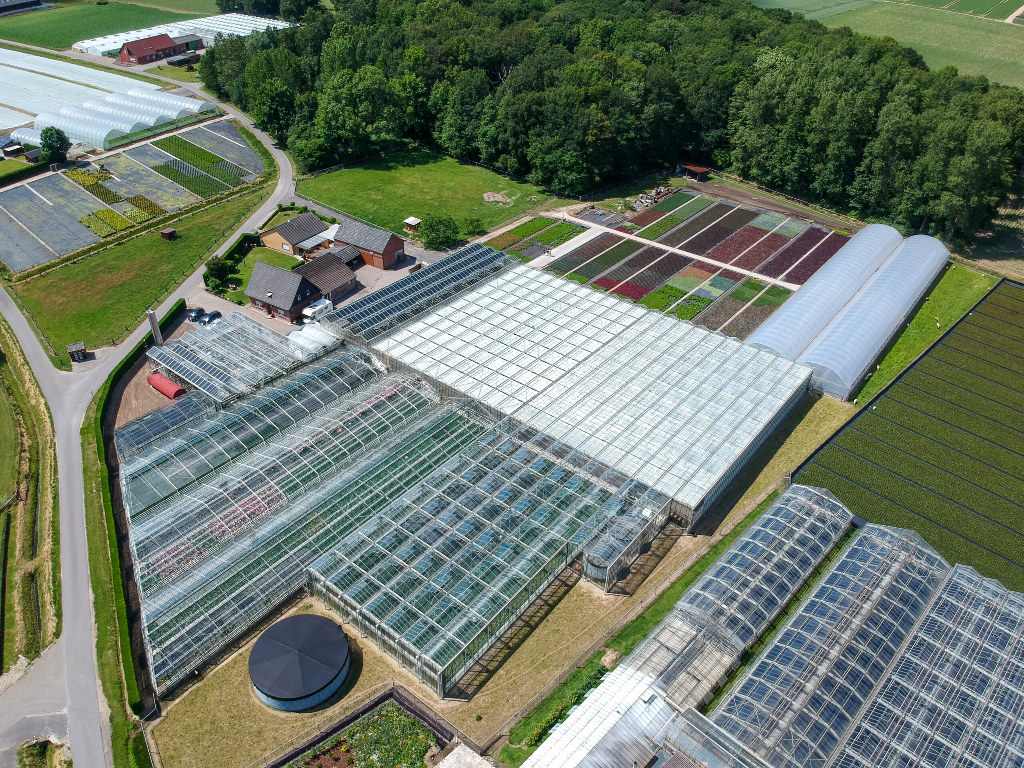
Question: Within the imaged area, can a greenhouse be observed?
Yes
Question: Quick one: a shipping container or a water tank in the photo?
water tank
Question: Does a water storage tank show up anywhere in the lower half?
Yes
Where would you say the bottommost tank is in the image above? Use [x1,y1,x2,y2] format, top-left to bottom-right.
[248,614,356,712]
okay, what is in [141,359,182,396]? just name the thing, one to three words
storage tank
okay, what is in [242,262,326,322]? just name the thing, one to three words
house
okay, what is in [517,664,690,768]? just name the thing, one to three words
greenhouse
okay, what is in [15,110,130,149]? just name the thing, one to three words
greenhouse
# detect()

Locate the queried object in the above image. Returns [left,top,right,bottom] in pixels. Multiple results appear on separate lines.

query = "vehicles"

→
[200,310,219,323]
[305,295,335,320]
[187,307,206,321]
